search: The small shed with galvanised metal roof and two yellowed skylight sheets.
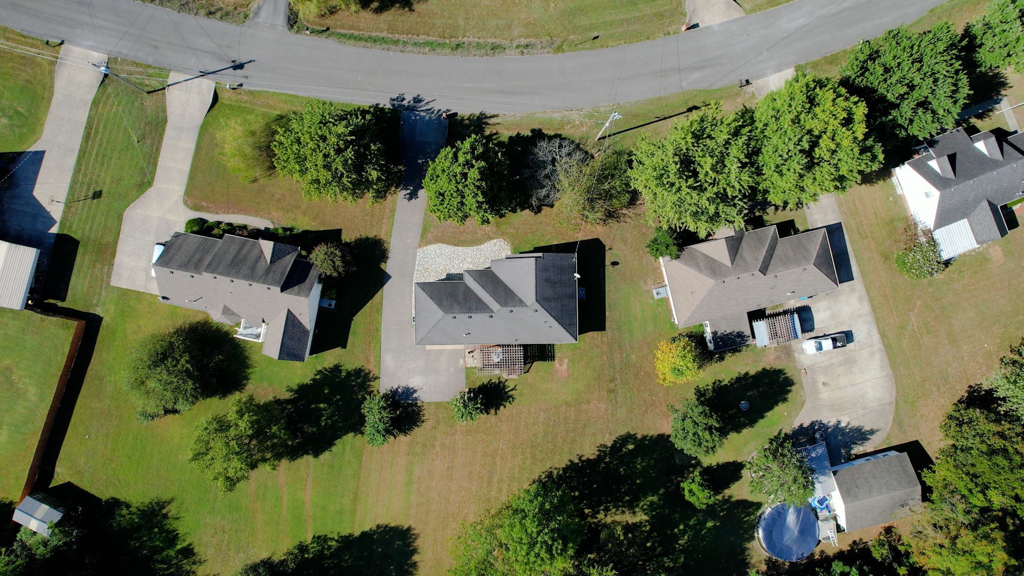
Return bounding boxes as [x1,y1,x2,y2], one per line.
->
[12,492,72,537]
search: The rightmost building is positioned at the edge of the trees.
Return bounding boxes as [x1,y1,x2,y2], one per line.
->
[891,104,1024,260]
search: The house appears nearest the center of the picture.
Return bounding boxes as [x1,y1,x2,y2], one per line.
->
[414,253,580,345]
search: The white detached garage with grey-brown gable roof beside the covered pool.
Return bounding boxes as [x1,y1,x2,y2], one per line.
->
[830,449,922,533]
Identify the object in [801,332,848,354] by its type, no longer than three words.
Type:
truck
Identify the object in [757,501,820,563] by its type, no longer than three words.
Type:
swimming pool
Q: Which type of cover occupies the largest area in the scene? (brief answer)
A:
grass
